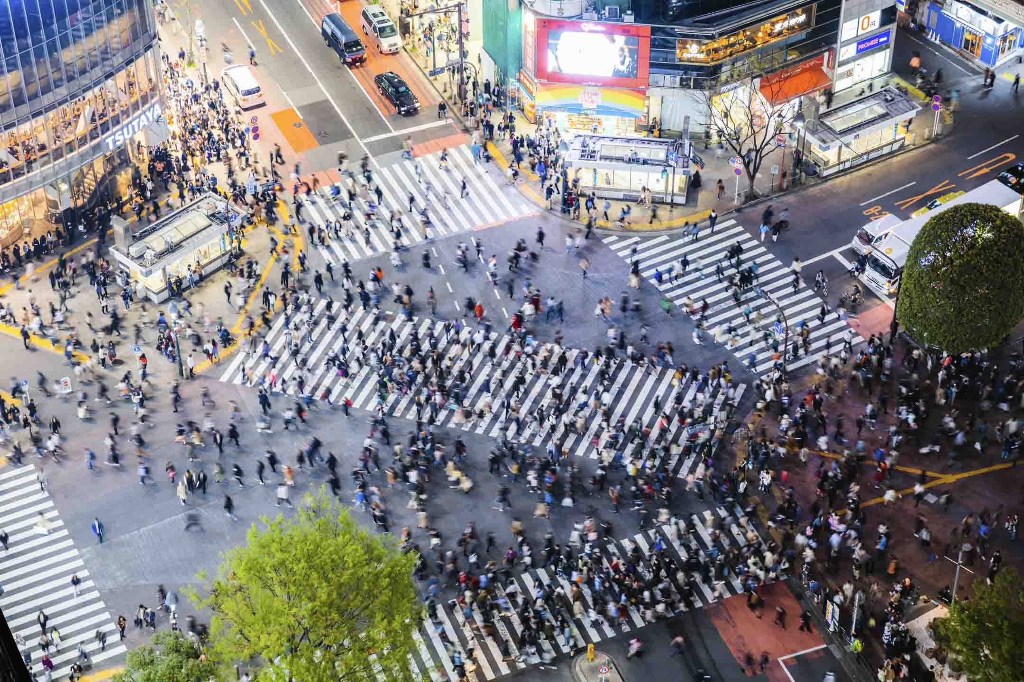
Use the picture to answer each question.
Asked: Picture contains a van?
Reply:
Yes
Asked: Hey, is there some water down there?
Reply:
No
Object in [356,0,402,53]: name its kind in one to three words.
van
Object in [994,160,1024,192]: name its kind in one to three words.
car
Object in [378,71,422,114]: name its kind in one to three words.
car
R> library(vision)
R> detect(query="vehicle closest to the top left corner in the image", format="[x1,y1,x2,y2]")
[223,67,266,109]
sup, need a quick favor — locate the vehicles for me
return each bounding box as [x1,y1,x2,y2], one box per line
[908,193,967,221]
[356,0,402,53]
[994,160,1024,192]
[378,71,422,114]
[319,7,367,67]
[856,214,909,257]
[847,262,864,281]
[223,67,266,109]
